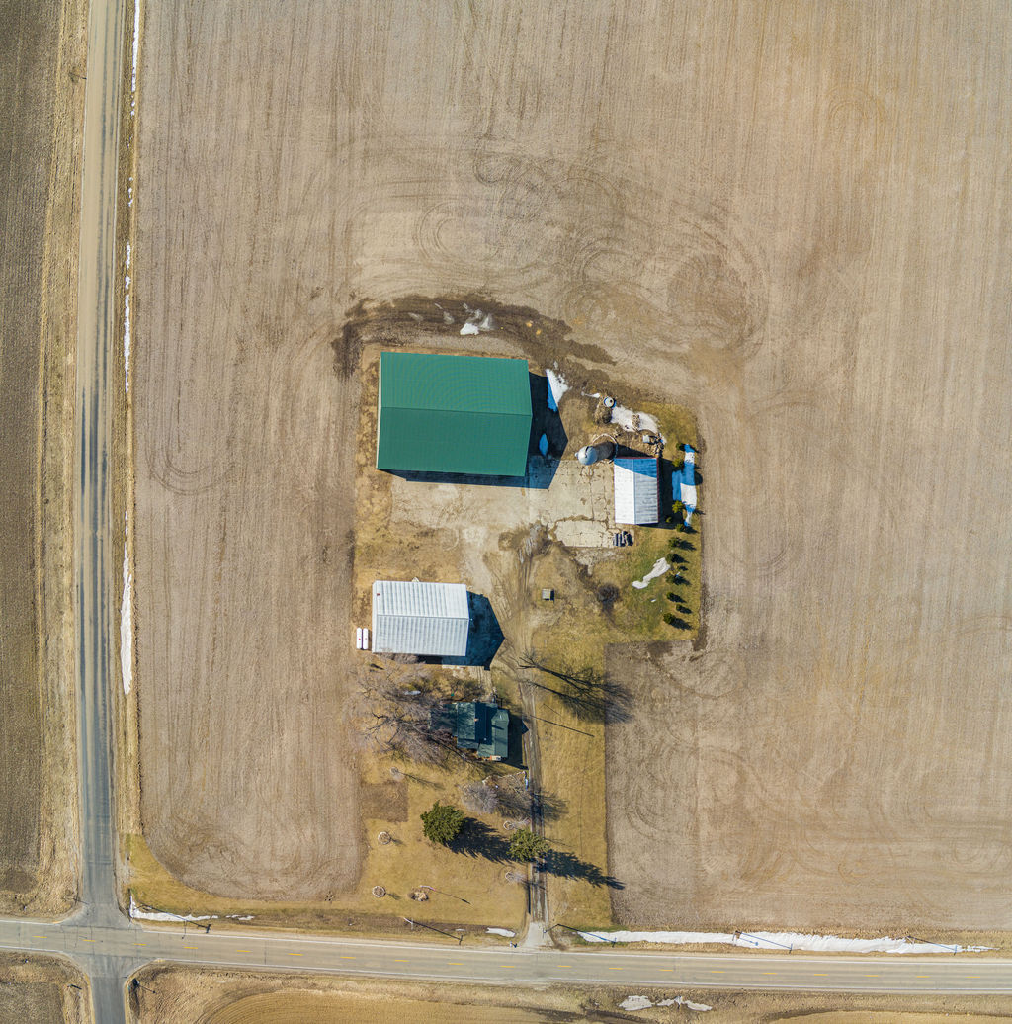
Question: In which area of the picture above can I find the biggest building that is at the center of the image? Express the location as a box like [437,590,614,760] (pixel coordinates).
[374,353,532,476]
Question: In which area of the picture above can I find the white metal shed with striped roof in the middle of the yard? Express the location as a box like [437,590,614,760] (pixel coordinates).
[369,578,471,656]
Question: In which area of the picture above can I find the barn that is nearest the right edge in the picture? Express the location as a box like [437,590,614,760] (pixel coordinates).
[613,457,660,524]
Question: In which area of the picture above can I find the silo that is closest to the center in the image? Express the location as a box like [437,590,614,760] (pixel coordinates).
[576,438,615,461]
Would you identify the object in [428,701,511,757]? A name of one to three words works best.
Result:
house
